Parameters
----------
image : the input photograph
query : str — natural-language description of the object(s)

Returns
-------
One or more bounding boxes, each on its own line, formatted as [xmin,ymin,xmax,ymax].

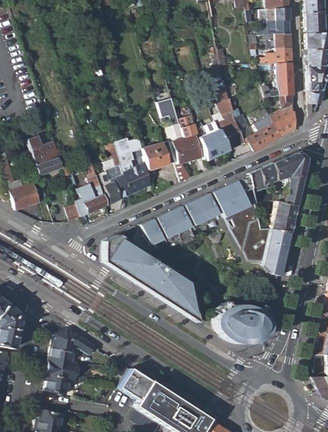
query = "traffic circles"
[238,386,304,432]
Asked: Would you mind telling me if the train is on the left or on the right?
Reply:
left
